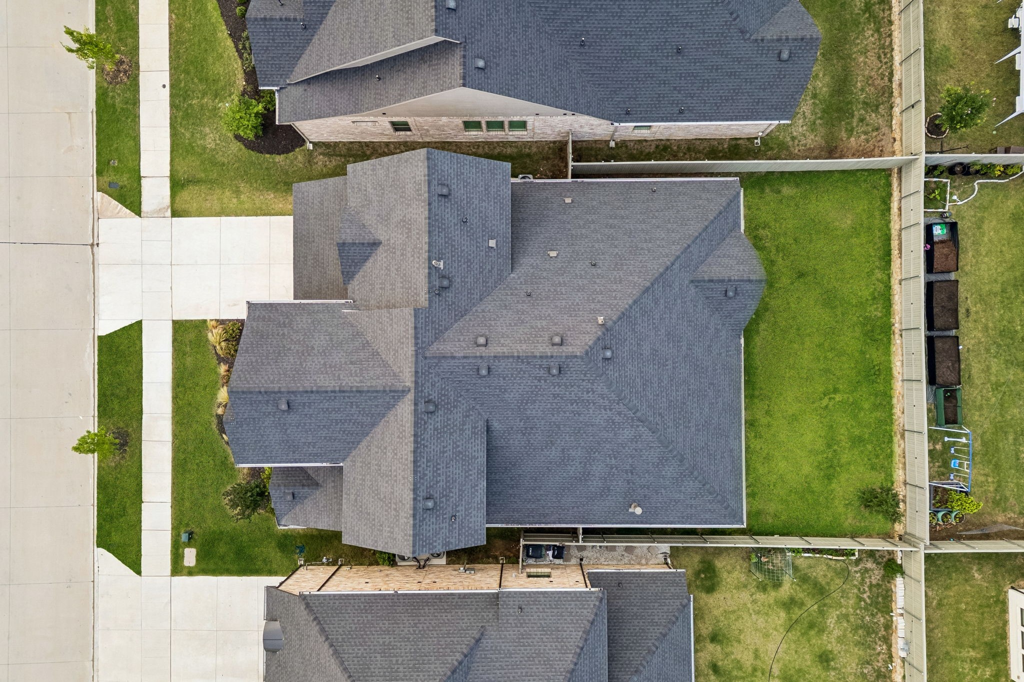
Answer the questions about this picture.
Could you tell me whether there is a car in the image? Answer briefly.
No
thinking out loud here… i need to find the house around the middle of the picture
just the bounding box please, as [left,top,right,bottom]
[223,148,765,555]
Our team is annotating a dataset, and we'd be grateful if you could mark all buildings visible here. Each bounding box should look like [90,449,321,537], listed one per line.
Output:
[246,0,821,147]
[223,148,765,555]
[1011,588,1024,682]
[261,559,696,682]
